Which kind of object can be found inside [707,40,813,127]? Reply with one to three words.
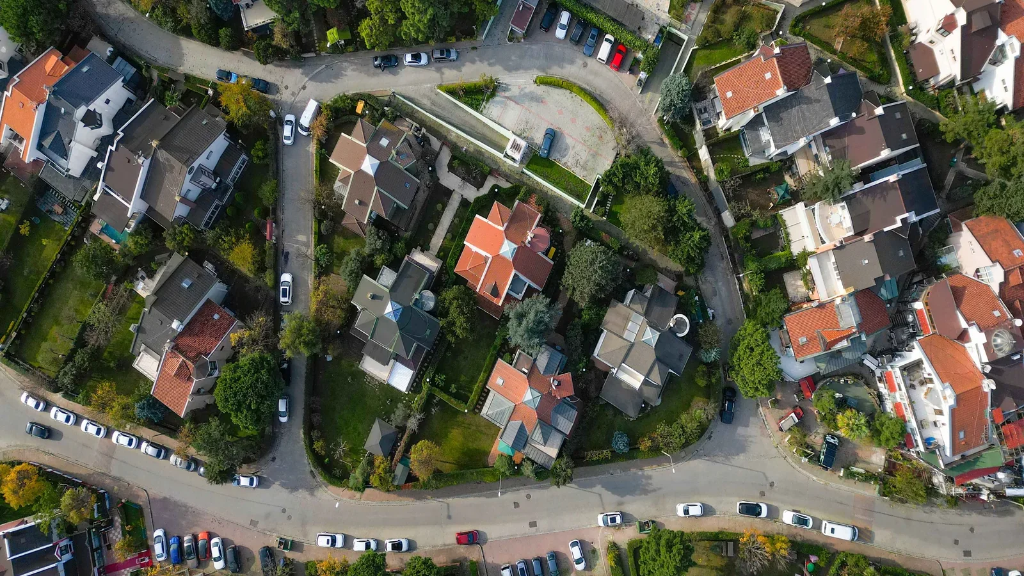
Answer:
house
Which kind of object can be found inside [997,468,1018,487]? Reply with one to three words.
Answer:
tent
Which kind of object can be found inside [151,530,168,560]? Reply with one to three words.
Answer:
car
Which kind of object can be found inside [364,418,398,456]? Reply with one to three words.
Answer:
building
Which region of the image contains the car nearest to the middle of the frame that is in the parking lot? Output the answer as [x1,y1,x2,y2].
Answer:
[539,127,555,157]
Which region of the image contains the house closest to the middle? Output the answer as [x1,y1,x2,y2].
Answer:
[454,200,554,320]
